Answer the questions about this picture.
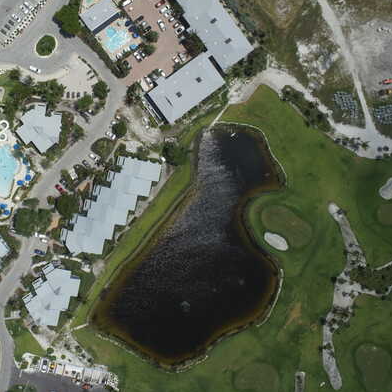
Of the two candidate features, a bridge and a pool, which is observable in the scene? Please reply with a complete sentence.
The image shows a pool.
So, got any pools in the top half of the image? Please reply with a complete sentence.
Yes, a pool shows up in the top half of the image.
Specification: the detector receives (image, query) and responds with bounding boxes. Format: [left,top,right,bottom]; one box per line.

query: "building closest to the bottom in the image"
[23,262,80,326]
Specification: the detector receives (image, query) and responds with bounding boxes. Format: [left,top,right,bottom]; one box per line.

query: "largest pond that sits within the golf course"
[90,125,285,367]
